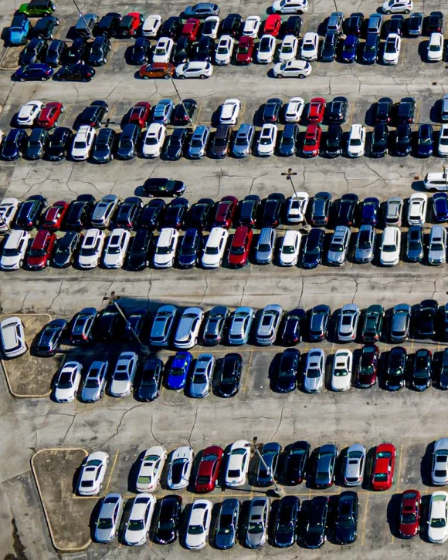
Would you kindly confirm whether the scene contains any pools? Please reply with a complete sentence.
No, there isn't any pool down there.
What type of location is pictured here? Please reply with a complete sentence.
It's a parking lot.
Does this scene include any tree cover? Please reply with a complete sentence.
No, there's no tree cover in this view.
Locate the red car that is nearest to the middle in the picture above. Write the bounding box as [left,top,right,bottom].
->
[226,224,252,266]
